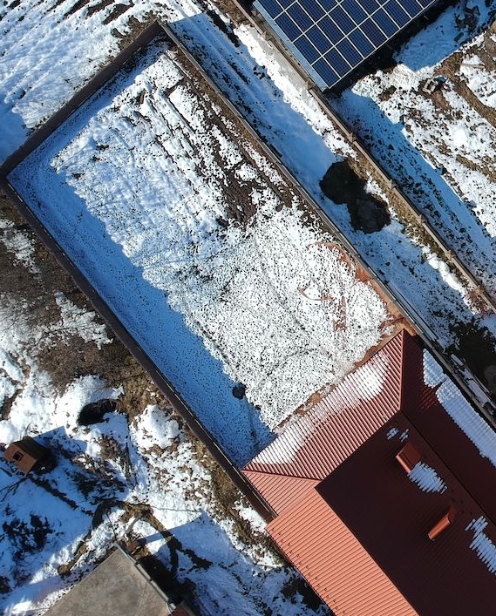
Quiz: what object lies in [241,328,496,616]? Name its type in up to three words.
house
